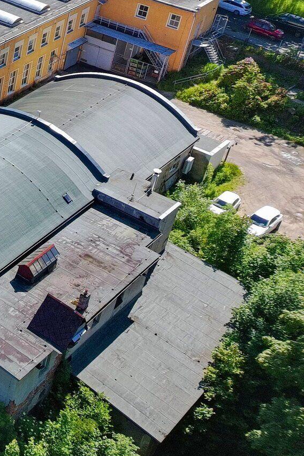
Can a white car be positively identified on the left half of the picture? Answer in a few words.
No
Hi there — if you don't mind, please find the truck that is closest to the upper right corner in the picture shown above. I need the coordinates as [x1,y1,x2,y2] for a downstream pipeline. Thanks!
[281,6,304,32]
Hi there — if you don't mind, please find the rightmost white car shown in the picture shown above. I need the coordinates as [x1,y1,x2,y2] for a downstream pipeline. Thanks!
[233,198,291,237]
